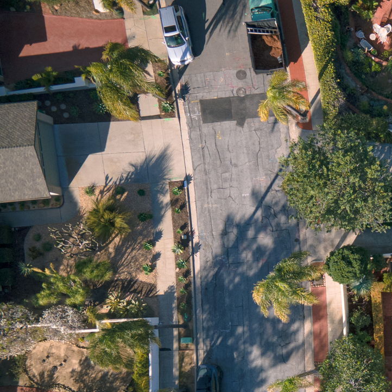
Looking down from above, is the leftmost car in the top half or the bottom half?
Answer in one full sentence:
The leftmost car is in the top half of the image.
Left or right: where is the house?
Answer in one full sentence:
The house sits on the left side.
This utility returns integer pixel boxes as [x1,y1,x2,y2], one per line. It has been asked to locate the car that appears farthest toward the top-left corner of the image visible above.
[155,2,200,69]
